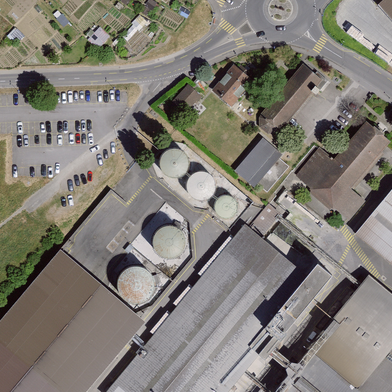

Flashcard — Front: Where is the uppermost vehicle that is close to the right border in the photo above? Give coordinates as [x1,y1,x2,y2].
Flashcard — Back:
[342,21,376,52]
